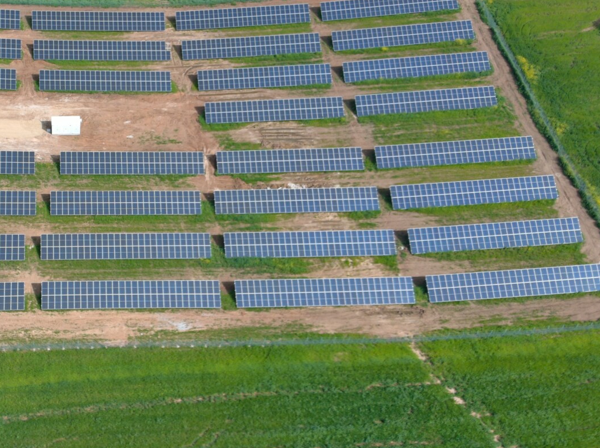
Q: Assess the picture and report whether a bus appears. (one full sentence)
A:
No, there's no bus here.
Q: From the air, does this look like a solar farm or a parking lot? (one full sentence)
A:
The area seen from above is a solar farm.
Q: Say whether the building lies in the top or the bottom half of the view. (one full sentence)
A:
It is in the top half that the building appears.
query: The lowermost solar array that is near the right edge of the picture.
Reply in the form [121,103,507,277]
[425,265,600,301]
